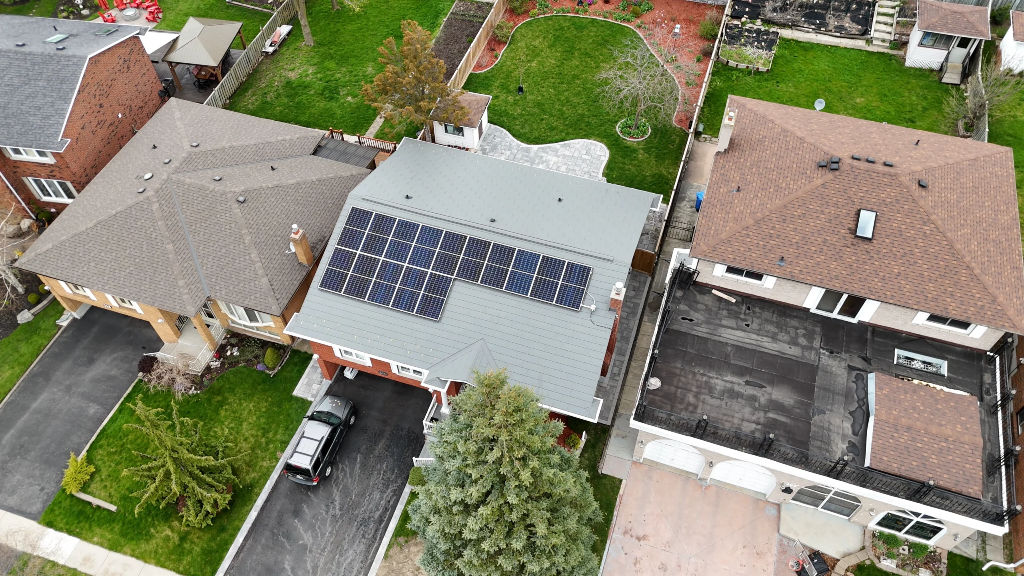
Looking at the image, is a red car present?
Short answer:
No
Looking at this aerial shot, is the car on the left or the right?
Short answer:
left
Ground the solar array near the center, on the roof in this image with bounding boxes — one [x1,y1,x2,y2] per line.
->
[317,206,611,330]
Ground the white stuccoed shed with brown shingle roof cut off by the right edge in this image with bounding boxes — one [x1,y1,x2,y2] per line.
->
[995,8,1024,76]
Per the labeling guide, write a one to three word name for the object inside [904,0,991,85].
shed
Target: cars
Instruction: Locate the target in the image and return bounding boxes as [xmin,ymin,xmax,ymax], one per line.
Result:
[282,386,360,485]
